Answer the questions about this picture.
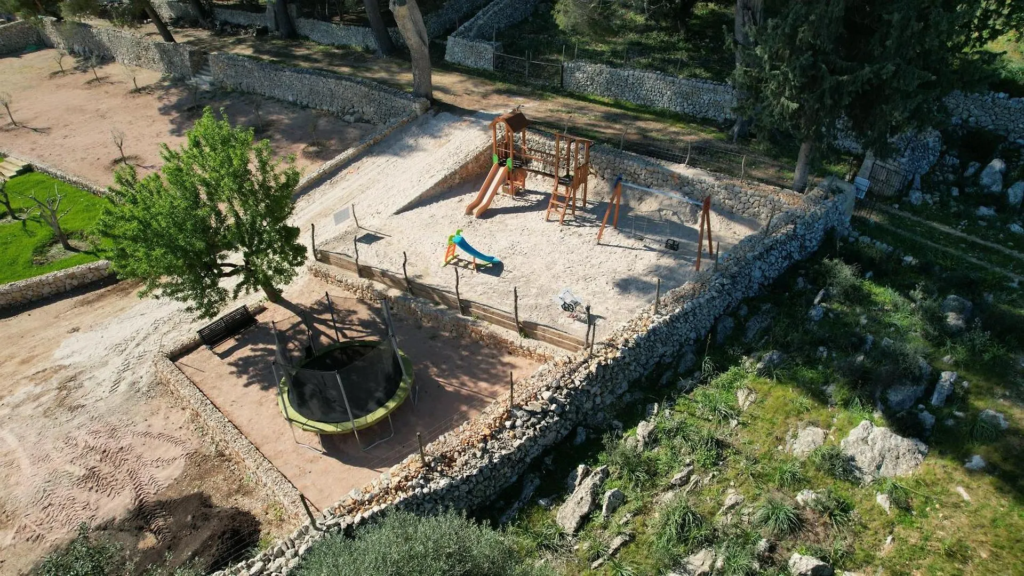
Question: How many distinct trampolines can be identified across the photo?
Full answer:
I count just 1 trampoline.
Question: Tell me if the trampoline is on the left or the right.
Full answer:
You can find the trampoline on the left side of the picture.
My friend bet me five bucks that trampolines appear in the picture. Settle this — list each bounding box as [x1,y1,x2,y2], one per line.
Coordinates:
[270,290,417,456]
